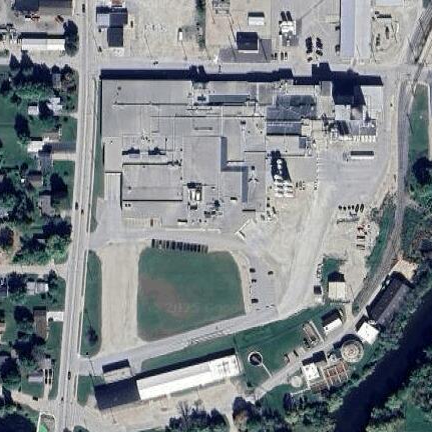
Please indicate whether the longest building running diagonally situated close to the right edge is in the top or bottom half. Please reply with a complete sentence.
The longest building running diagonally situated close to the right edge is in the bottom half of the image.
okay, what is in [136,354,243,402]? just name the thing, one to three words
building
